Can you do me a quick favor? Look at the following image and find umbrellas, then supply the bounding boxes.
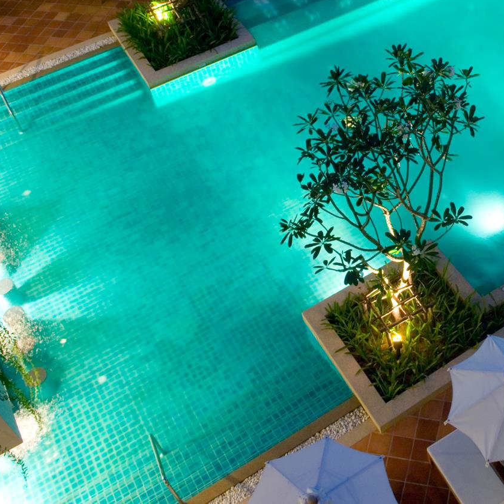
[250,433,399,504]
[441,336,504,475]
